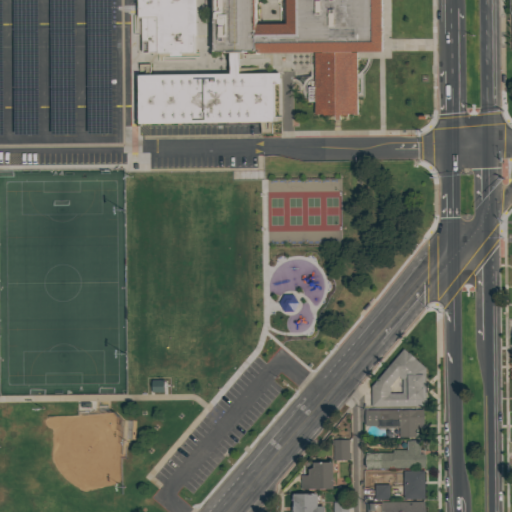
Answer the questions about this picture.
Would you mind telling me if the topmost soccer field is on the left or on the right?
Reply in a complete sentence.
It is on the left.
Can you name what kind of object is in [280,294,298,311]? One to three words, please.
gazebo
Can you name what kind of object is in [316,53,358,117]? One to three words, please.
building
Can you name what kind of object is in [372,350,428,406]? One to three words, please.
building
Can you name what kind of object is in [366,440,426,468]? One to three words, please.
house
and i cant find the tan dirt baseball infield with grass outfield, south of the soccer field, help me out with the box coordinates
[0,402,131,512]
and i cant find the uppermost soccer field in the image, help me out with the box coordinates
[0,170,126,396]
